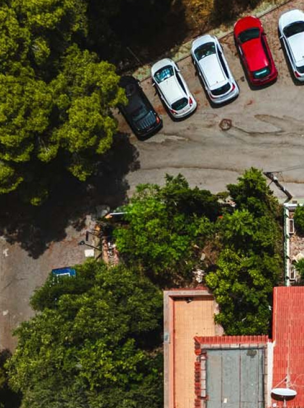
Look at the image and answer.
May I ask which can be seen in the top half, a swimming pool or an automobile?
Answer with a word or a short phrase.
automobile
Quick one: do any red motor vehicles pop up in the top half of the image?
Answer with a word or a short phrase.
Yes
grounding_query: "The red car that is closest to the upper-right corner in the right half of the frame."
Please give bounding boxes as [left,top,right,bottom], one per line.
[234,16,279,88]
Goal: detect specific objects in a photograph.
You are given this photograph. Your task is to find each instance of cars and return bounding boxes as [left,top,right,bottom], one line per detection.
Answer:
[150,57,199,123]
[191,34,241,107]
[234,16,279,88]
[116,73,169,145]
[278,9,304,84]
